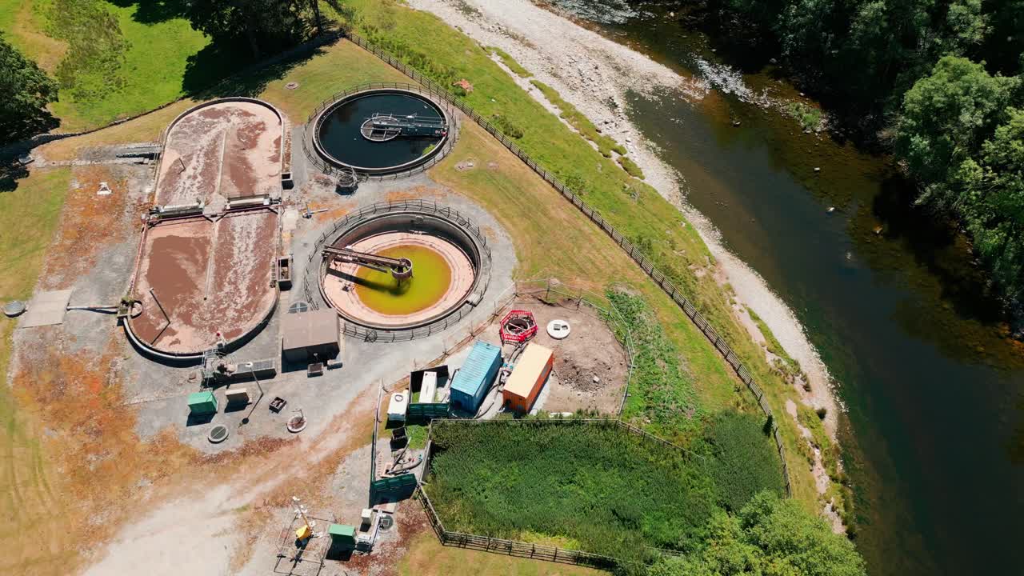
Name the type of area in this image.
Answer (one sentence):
This looks like an industrial area.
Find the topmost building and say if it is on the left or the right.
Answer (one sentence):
The topmost building appears in the left half of the scene.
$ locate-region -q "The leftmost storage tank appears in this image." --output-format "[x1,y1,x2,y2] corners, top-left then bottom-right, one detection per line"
[118,98,286,365]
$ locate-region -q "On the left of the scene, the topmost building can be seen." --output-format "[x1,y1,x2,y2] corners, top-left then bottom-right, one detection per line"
[281,309,346,371]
